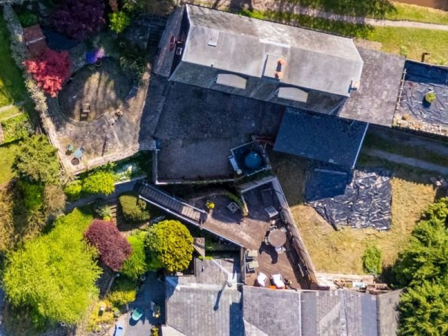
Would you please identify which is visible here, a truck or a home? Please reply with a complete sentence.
Of the two, only a home appears.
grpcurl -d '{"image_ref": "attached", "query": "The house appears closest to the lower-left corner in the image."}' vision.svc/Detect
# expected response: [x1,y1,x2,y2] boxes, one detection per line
[162,254,241,336]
